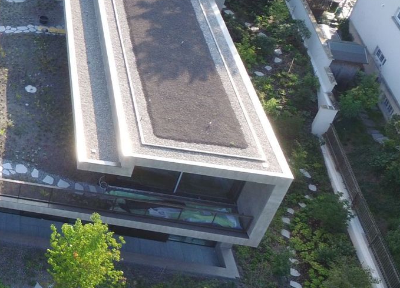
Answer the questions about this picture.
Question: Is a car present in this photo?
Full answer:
No, I can see no car in this picture.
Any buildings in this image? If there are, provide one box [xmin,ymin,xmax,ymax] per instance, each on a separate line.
[348,0,400,115]
[334,43,376,92]
[61,0,293,247]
